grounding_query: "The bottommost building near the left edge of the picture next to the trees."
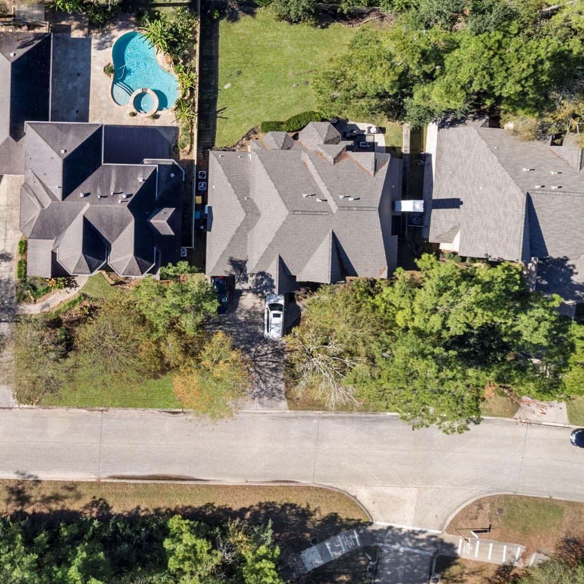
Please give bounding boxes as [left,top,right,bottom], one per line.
[0,31,186,279]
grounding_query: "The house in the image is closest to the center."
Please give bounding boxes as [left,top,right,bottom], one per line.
[205,121,424,295]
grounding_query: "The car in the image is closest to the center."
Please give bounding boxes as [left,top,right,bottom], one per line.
[264,294,287,339]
